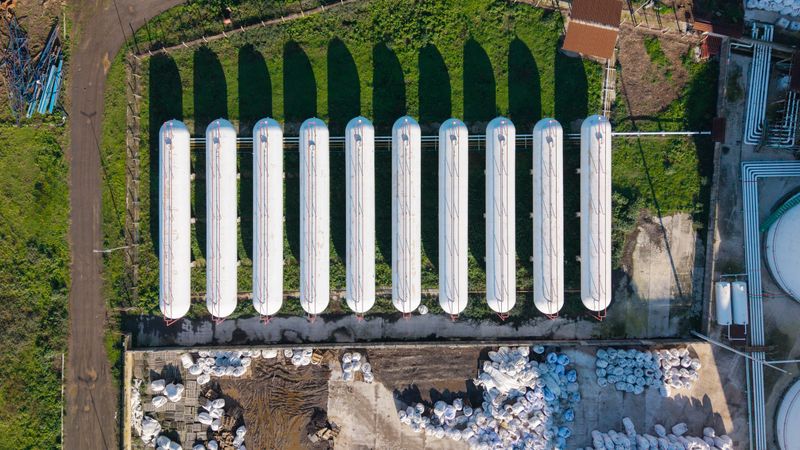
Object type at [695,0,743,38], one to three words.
barn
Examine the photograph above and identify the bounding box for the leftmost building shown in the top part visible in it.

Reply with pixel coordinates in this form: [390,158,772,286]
[561,0,623,60]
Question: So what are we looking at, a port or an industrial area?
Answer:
industrial area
